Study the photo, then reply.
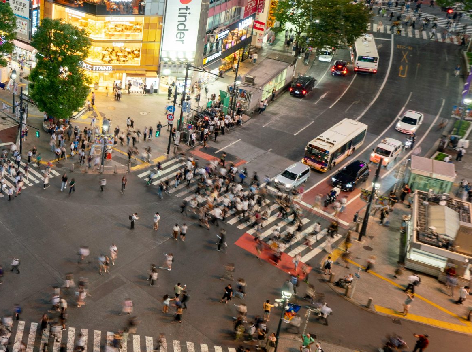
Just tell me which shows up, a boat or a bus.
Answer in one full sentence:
Looking from above, you can make out a bus.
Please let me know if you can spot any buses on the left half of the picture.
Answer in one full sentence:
No, I can find no bus on the left half of the picture.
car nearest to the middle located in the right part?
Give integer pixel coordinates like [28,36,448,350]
[278,159,316,192]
